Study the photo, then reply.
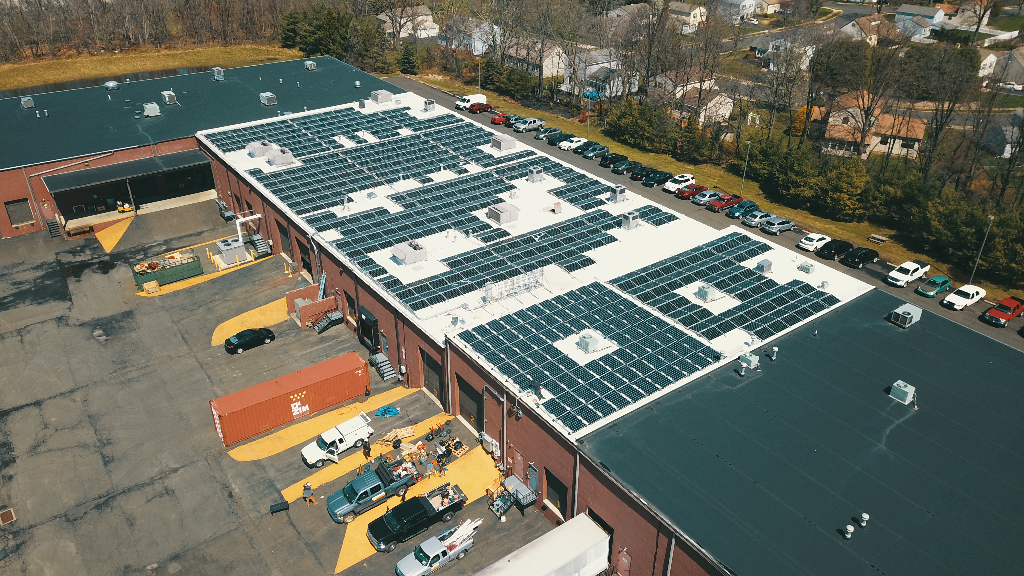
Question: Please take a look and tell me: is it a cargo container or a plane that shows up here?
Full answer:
There is a cargo container in the scene.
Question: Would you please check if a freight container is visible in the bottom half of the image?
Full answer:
Yes, I can see a freight container in the bottom half of the image.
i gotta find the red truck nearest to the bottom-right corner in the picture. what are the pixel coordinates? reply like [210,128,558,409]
[981,290,1024,328]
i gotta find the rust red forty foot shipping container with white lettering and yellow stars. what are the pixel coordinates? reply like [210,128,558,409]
[210,351,370,445]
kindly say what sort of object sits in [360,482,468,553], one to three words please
truck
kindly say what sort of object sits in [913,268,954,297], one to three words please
car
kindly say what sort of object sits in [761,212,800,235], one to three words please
car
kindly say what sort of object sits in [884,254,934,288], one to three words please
truck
